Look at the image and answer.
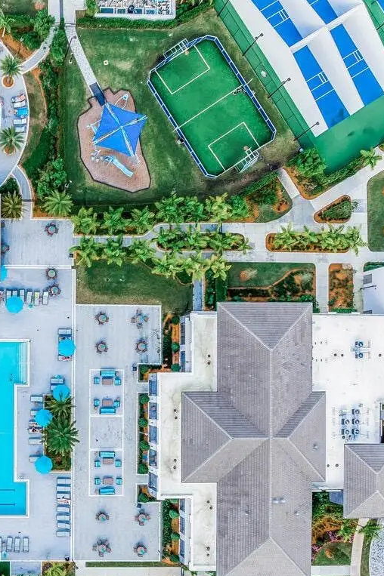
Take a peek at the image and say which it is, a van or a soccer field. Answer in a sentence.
The image shows a soccer field.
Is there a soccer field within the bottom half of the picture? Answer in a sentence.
No, there's no soccer field to be seen within the bottom half of the picture.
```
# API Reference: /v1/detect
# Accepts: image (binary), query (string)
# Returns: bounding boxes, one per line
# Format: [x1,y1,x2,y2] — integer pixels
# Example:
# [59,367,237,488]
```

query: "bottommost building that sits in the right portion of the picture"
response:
[148,302,384,576]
